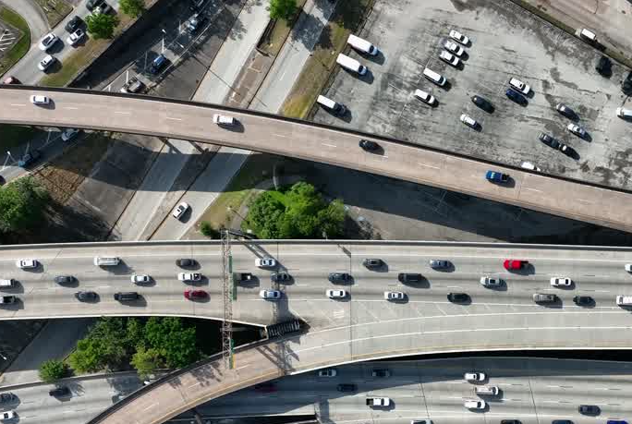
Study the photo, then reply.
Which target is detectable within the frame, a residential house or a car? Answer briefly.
car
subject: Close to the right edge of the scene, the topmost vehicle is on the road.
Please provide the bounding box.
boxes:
[578,23,603,47]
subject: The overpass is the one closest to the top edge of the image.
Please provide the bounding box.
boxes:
[0,83,632,232]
